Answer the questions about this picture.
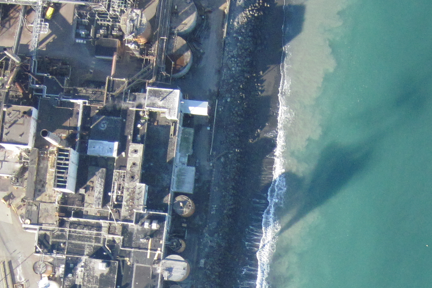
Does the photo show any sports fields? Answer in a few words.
No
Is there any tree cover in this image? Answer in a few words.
No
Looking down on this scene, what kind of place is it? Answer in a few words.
industrial area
